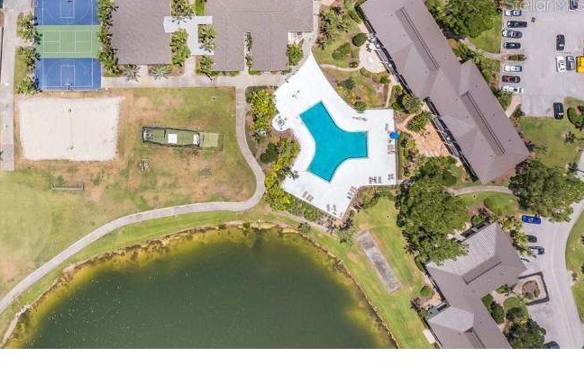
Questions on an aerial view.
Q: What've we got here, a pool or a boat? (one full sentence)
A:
The image shows a pool.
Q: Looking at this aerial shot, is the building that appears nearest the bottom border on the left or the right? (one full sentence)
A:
The building that appears nearest the bottom border appears in the right half of the scene.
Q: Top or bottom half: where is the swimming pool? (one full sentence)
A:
The swimming pool sits in the top half of the picture.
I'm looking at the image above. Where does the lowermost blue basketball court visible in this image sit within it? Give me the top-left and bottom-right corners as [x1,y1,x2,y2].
[34,58,101,91]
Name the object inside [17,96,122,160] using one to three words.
sports court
